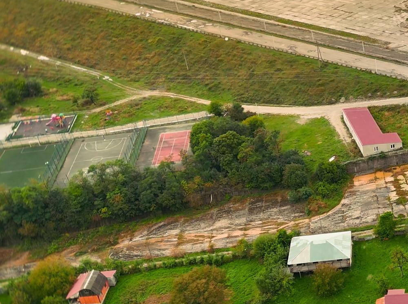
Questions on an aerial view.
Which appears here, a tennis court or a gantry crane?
tennis court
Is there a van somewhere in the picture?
No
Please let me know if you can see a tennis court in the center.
Yes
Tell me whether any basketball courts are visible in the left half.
Yes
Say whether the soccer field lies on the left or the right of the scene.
left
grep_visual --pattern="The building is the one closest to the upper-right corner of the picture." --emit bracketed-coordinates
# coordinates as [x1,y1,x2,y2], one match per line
[343,107,402,154]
